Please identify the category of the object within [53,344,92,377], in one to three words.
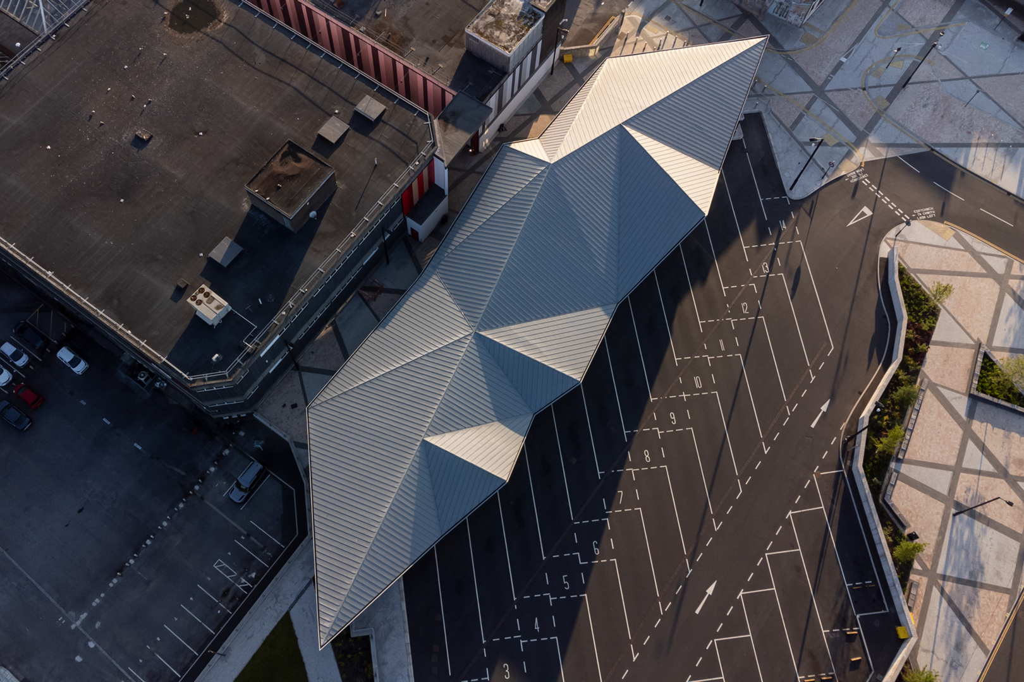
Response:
car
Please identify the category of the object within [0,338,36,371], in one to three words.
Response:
car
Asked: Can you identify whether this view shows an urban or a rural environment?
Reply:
urban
